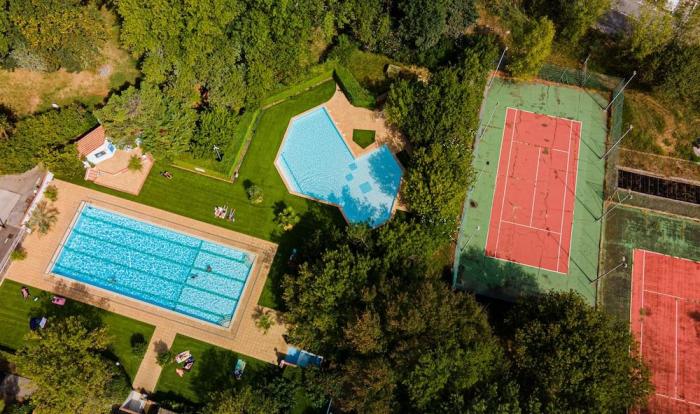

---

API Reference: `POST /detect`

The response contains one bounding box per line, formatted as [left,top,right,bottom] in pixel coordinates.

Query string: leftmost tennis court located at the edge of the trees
[450,75,610,320]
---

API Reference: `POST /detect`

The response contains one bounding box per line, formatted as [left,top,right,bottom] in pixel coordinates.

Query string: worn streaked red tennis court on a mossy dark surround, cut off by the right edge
[598,202,700,414]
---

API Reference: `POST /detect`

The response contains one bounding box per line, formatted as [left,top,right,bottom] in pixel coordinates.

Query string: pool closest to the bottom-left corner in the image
[39,196,268,338]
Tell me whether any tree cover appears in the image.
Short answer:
Yes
